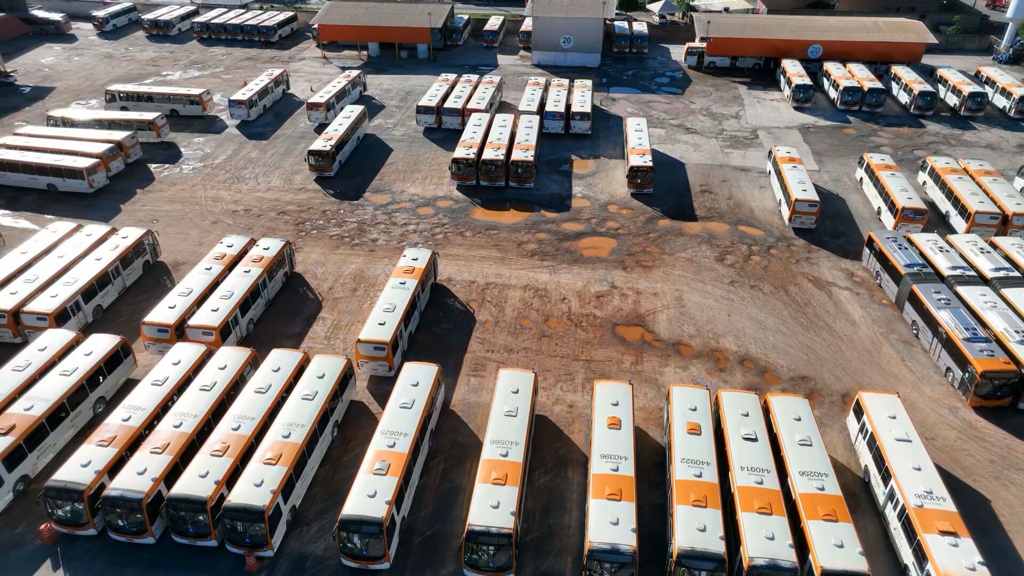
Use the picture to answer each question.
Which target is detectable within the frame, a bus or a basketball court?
bus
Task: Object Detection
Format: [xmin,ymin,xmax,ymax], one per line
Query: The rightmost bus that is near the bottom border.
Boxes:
[848,394,987,576]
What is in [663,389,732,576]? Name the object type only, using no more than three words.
bus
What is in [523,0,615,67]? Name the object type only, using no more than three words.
shed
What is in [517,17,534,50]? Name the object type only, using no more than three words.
vehicle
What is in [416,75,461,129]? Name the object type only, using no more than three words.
bus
